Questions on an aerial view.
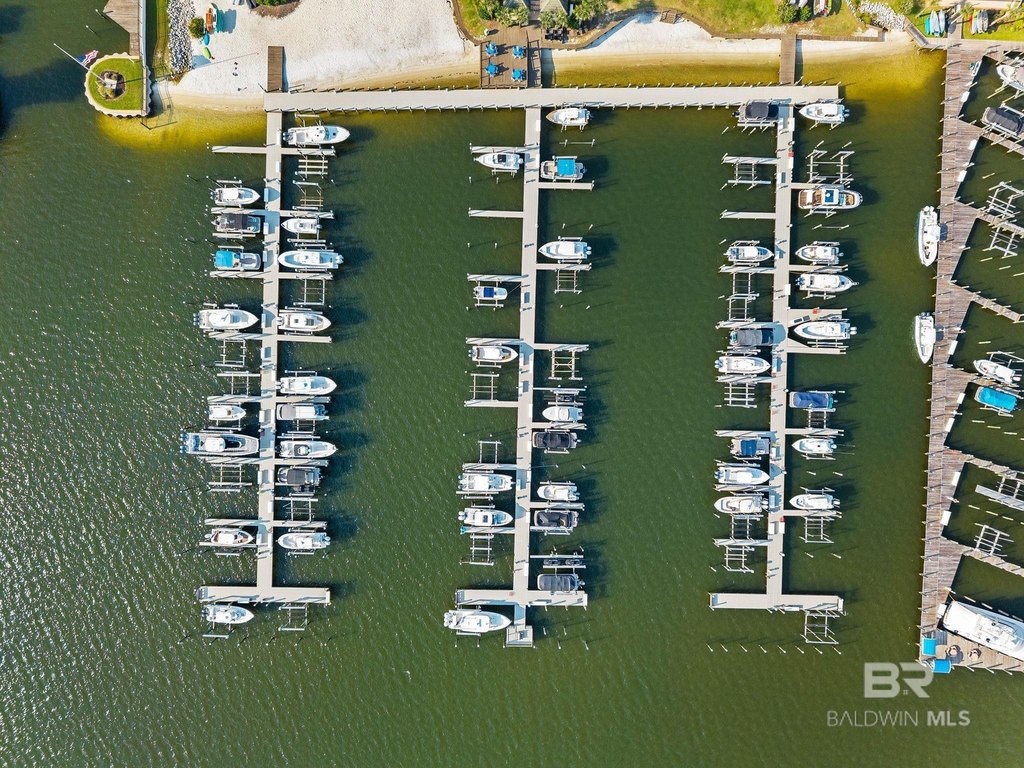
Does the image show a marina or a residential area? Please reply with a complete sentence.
It's a marina.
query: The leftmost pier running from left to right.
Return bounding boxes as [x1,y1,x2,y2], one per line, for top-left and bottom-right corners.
[264,82,838,115]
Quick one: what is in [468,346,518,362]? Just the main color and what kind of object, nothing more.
white boat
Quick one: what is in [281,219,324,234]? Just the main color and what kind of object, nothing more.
white boat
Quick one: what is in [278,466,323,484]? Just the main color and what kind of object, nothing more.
gray boat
